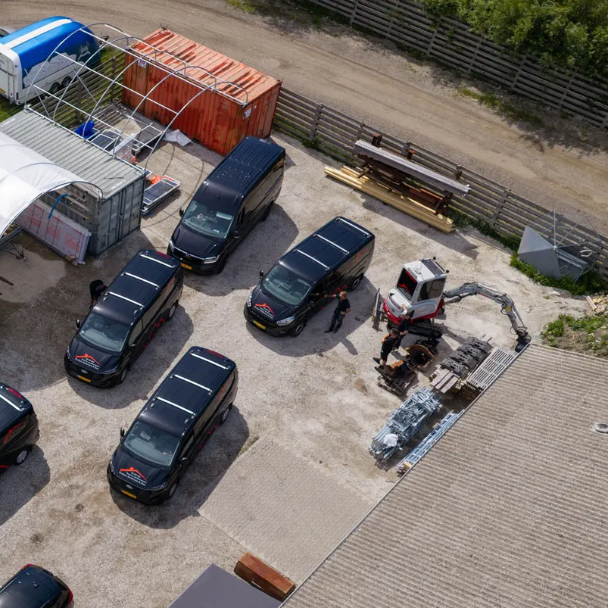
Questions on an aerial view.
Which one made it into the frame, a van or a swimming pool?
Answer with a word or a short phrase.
van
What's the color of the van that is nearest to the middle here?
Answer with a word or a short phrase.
black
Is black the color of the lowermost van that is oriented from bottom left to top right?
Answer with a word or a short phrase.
Yes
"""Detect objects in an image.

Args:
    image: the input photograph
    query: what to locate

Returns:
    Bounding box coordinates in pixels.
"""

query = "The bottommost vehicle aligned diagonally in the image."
[108,344,241,504]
